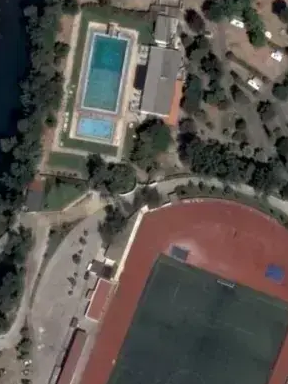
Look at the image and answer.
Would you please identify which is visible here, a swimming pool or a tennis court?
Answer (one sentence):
There is a swimming pool in the scene.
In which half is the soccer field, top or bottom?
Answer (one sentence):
Seen from above, the soccer field lies in the bottom half of the view.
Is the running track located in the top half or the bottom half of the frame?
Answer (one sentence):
Seen from above, the running track lies in the bottom half of the view.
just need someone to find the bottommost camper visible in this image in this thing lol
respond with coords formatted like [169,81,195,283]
[247,75,259,88]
